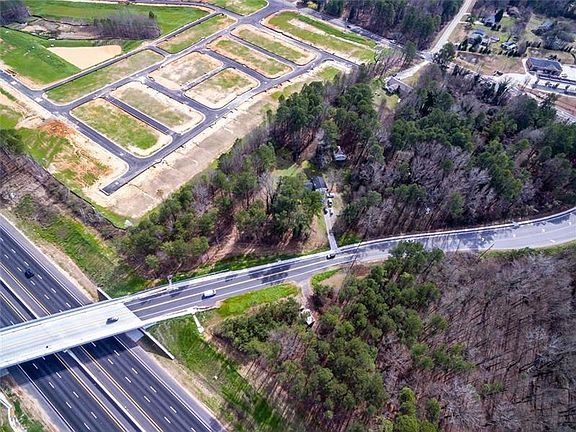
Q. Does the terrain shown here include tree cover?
Yes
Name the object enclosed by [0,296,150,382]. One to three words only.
bridge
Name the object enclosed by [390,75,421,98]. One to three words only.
house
